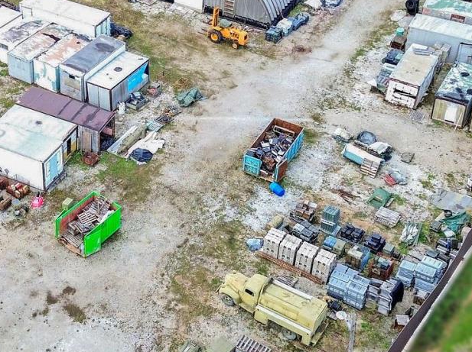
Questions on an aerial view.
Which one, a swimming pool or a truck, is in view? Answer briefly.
truck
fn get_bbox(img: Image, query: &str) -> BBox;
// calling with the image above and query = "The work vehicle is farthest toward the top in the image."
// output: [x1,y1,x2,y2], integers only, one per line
[198,5,252,48]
